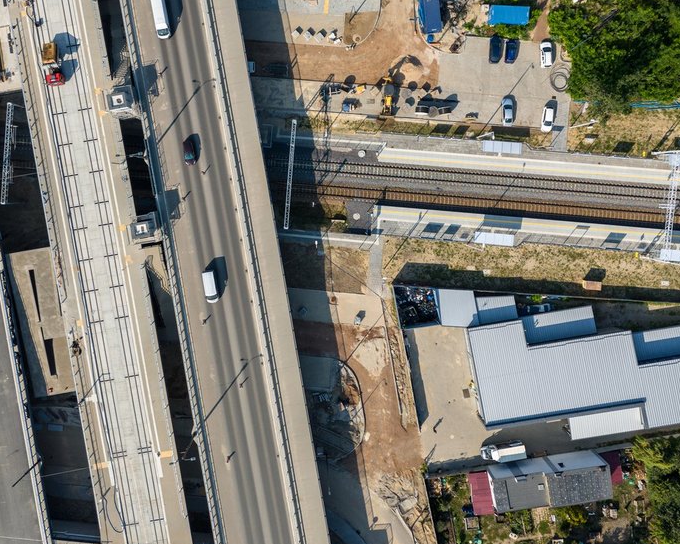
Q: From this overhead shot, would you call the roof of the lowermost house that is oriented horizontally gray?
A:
Yes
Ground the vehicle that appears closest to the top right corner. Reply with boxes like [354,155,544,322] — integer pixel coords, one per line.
[537,43,552,69]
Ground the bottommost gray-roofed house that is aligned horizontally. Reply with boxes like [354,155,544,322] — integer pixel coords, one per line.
[487,450,612,514]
